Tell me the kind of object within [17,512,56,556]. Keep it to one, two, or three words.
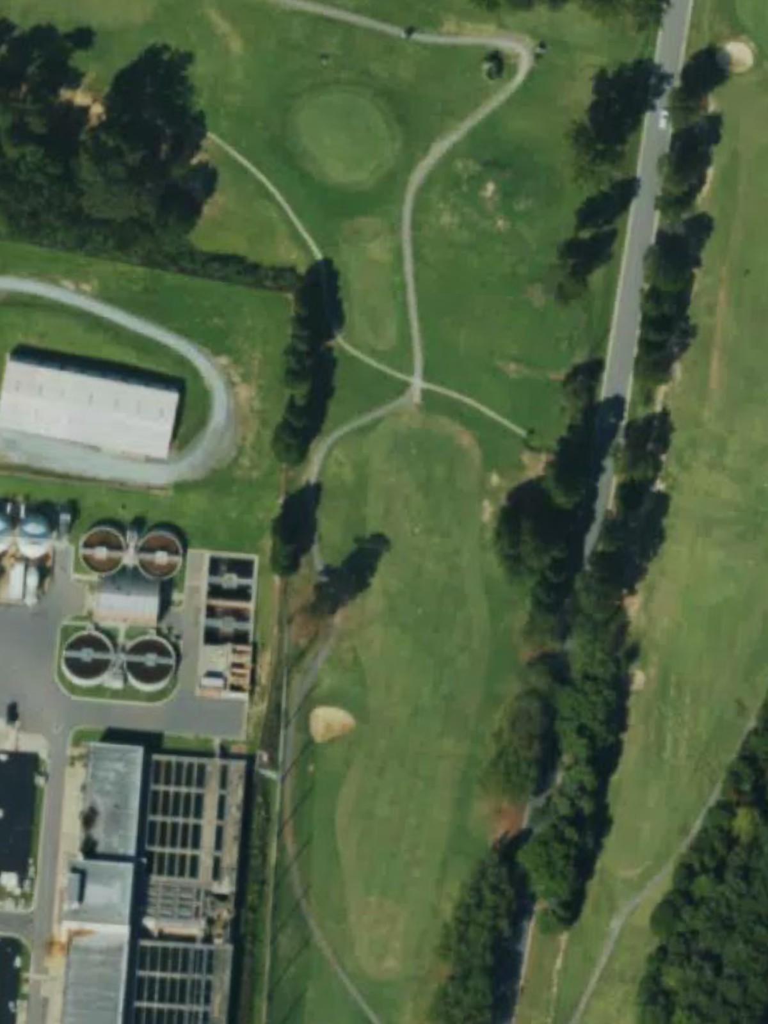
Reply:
storage tank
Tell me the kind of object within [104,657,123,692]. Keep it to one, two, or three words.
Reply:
building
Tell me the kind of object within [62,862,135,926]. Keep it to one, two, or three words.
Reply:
building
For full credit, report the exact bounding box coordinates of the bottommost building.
[59,922,129,1024]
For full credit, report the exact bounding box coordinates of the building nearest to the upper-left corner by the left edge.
[0,360,179,465]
